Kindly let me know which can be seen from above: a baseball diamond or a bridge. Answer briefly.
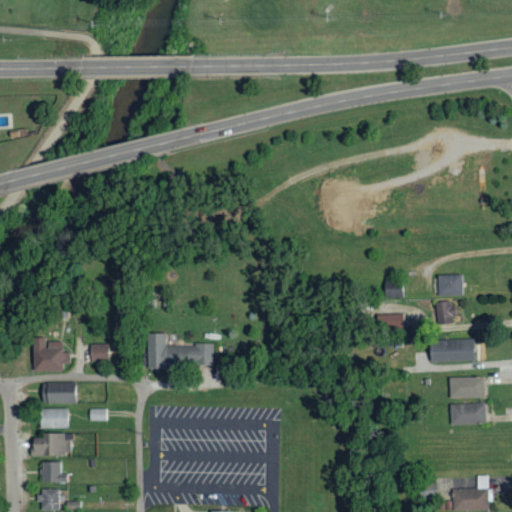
bridge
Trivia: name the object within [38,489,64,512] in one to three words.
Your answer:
house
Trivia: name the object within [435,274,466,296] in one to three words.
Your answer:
house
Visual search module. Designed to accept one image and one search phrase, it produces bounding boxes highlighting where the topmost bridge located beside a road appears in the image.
[81,56,194,77]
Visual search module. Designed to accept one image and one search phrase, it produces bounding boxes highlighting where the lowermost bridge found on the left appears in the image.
[3,132,172,192]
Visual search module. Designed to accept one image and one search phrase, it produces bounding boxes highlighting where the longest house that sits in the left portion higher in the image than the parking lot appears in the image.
[148,333,214,369]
